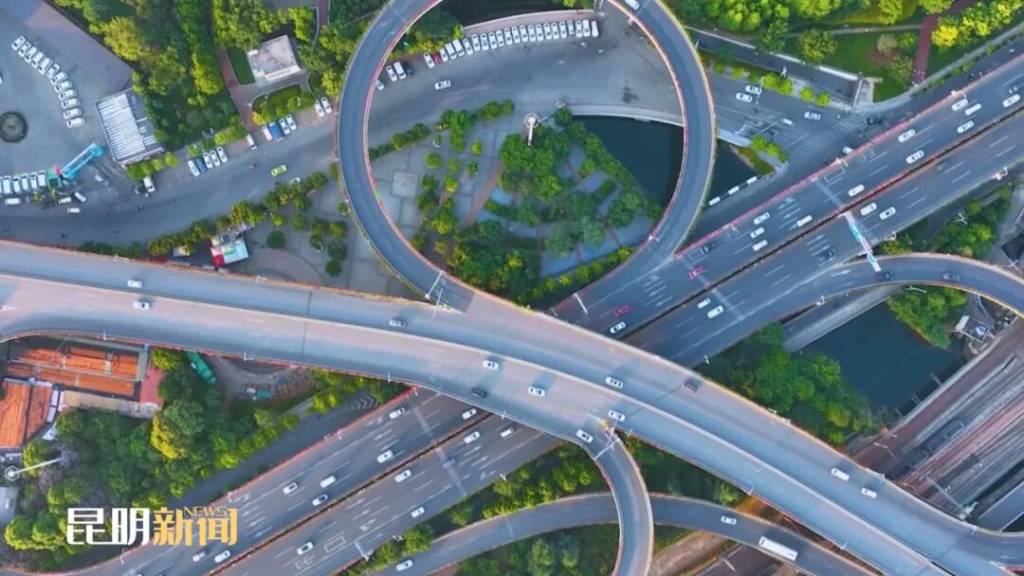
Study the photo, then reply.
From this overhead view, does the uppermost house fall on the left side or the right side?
left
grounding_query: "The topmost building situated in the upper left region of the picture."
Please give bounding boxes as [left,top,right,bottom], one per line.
[247,34,304,87]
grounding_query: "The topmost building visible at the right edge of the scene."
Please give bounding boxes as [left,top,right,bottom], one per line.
[993,226,1024,275]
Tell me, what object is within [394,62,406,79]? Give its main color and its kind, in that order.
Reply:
white vehicle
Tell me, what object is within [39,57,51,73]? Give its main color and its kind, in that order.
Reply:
white vehicle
